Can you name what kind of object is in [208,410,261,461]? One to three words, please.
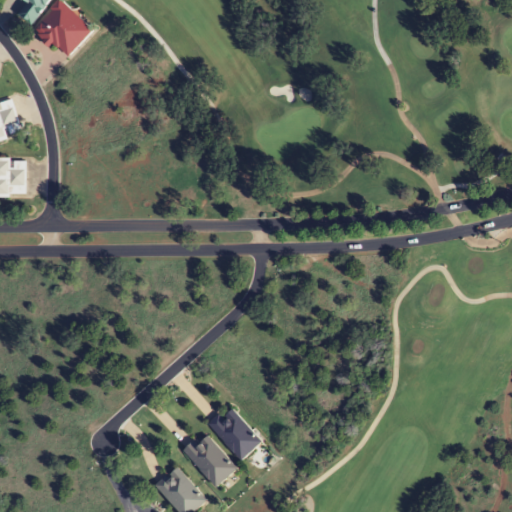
house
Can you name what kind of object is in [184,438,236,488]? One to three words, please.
house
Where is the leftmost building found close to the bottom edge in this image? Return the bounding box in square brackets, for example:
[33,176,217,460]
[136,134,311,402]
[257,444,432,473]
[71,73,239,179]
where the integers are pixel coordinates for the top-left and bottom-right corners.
[154,470,207,512]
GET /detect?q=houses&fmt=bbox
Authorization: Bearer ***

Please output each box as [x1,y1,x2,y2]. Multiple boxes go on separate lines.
[208,410,261,461]
[30,0,88,52]
[154,470,207,512]
[0,98,17,142]
[0,157,28,198]
[23,0,50,22]
[184,438,236,488]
